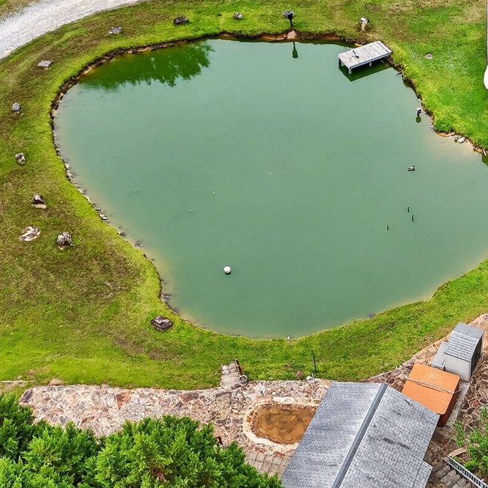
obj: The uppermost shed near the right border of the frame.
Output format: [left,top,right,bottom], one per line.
[442,325,483,379]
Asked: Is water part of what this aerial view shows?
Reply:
Yes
